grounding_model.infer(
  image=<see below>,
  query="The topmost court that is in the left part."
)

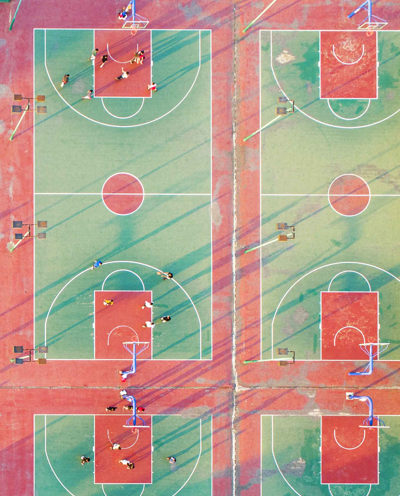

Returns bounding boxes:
[34,29,211,360]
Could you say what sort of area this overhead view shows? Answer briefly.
sports ground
